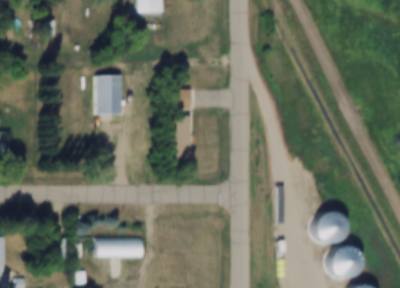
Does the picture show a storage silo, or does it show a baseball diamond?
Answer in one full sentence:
Visible in the photo is a storage silo.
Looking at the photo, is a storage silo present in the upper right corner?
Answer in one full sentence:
No, I see no storage silo in the upper right corner.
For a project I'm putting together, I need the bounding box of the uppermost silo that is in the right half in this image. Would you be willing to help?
[308,209,349,246]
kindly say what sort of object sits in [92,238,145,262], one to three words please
building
